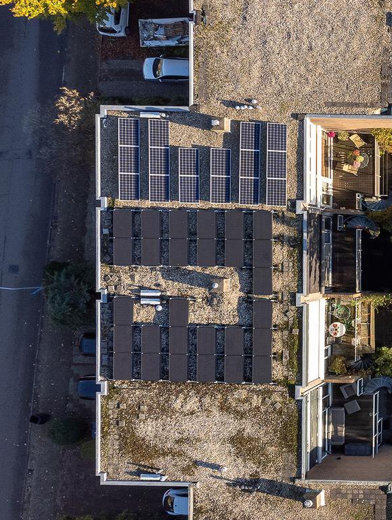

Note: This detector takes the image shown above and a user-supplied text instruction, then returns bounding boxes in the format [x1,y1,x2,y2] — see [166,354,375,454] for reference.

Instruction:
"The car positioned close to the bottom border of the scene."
[161,485,189,517]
